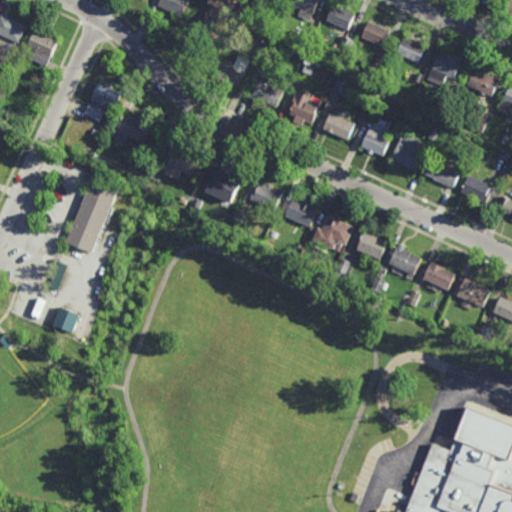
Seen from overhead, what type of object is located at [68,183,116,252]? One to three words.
building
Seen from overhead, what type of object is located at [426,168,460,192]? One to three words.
house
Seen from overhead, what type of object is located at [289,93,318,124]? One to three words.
house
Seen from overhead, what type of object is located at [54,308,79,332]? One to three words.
building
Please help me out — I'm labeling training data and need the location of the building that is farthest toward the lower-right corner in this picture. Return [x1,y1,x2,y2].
[406,407,512,512]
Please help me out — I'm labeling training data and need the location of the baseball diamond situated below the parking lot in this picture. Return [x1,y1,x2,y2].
[0,340,48,436]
